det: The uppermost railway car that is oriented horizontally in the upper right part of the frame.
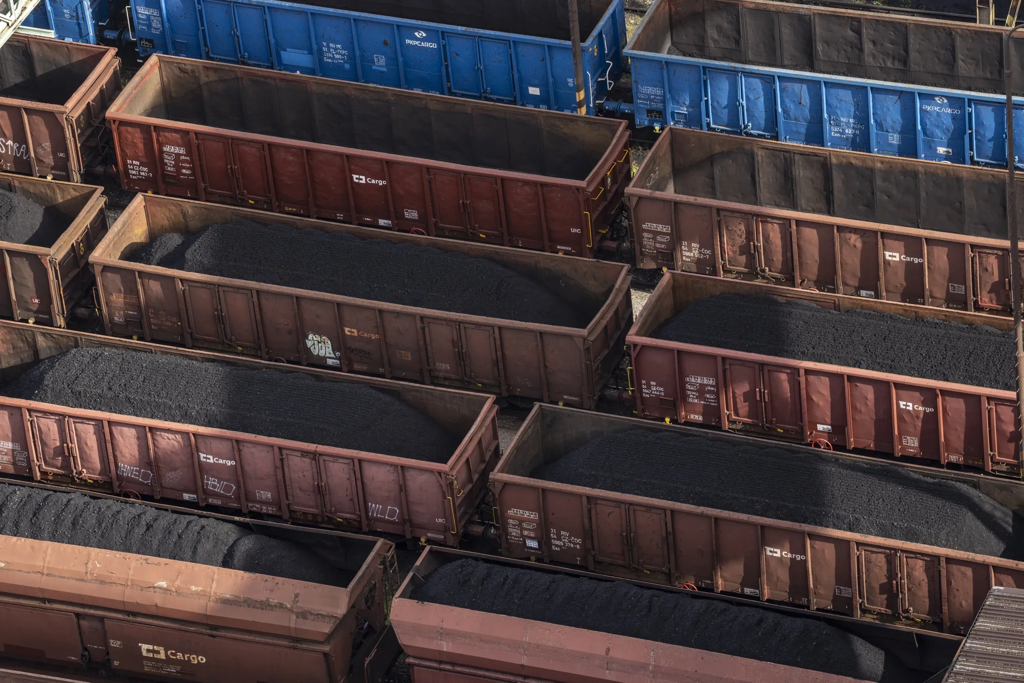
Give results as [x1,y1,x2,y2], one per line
[614,0,1024,173]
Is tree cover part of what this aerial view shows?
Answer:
No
